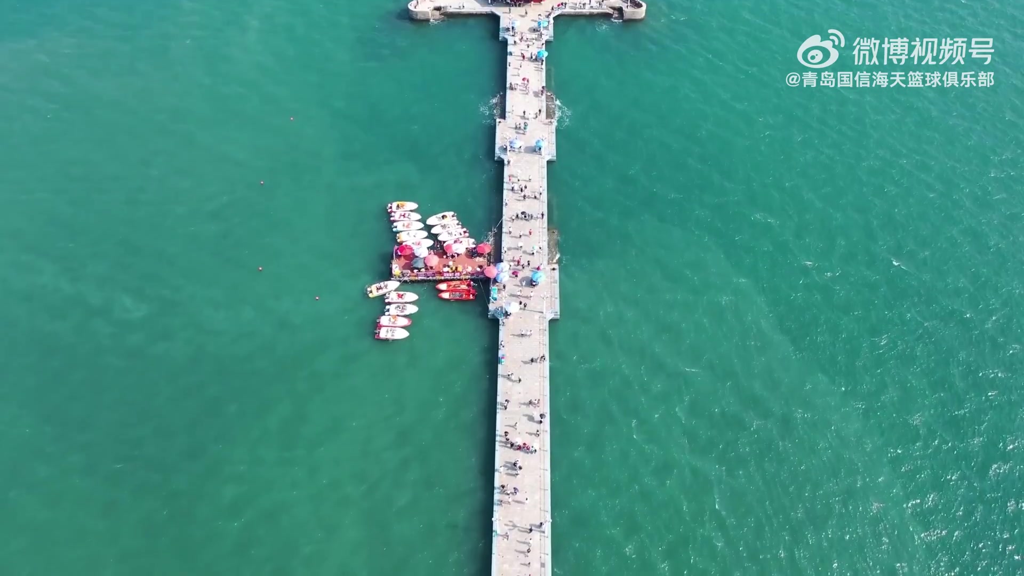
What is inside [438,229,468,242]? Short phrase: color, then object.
white boat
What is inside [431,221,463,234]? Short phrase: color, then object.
white boat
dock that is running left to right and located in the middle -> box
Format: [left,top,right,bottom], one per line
[393,246,493,281]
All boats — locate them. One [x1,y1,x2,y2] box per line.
[385,304,418,315]
[366,281,400,297]
[390,212,422,222]
[438,229,468,242]
[436,282,473,291]
[375,327,409,340]
[444,237,477,249]
[396,230,428,242]
[385,292,418,303]
[399,238,434,249]
[388,202,418,212]
[375,315,412,327]
[438,291,477,300]
[431,221,463,234]
[426,212,458,225]
[393,220,424,231]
